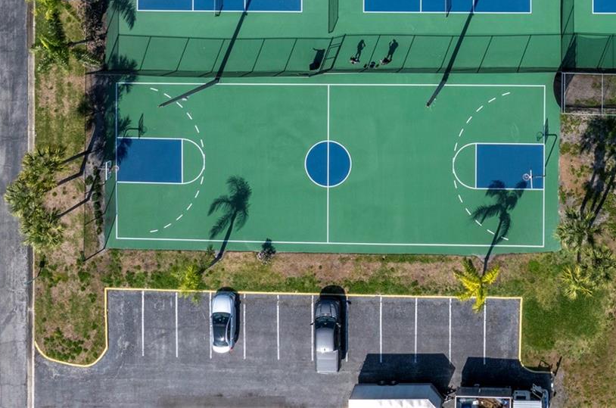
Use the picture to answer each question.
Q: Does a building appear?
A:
No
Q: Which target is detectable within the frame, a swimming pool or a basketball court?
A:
basketball court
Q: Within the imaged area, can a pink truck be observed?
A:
No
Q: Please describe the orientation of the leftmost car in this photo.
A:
up and down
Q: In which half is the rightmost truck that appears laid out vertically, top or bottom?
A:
bottom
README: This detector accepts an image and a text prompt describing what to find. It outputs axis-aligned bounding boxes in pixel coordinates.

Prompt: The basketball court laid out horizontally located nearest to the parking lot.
[104,69,560,253]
